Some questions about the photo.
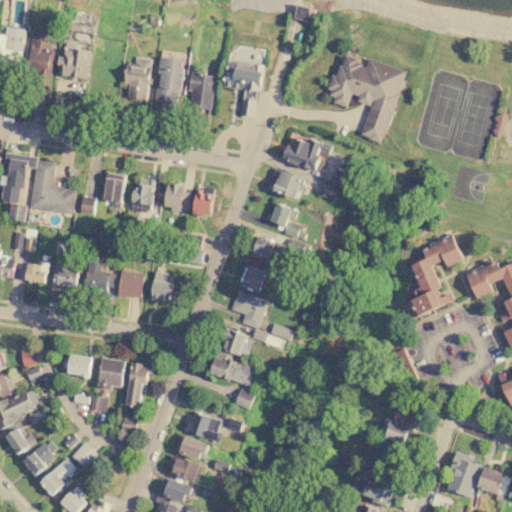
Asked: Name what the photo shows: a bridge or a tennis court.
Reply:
tennis court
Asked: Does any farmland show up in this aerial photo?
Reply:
No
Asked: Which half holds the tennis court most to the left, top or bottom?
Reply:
top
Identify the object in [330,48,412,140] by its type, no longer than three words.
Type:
building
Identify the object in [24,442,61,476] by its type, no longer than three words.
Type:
house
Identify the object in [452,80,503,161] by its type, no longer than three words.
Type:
tennis court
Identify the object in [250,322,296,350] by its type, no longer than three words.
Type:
shed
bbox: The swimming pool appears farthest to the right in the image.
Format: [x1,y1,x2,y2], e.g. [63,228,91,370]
[48,214,62,228]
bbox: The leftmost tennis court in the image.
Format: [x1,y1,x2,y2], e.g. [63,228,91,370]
[417,70,468,154]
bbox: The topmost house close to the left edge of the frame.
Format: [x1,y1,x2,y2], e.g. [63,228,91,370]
[0,28,29,58]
